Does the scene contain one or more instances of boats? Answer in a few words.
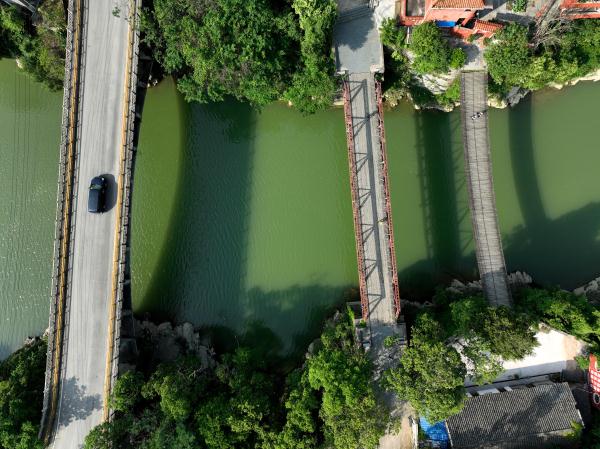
No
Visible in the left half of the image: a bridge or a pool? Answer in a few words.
bridge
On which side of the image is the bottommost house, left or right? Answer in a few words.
right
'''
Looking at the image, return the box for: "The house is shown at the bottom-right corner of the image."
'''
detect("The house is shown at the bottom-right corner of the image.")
[442,380,589,449]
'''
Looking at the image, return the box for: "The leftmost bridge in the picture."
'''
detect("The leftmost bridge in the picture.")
[37,0,159,449]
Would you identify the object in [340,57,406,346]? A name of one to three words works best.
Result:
bridge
